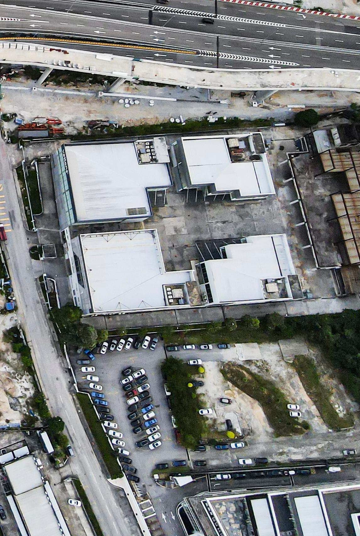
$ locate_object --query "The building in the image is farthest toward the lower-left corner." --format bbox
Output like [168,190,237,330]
[0,455,71,536]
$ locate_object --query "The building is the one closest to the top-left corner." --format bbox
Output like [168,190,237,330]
[54,138,172,230]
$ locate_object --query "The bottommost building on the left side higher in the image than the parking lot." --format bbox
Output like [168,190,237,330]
[73,229,201,314]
